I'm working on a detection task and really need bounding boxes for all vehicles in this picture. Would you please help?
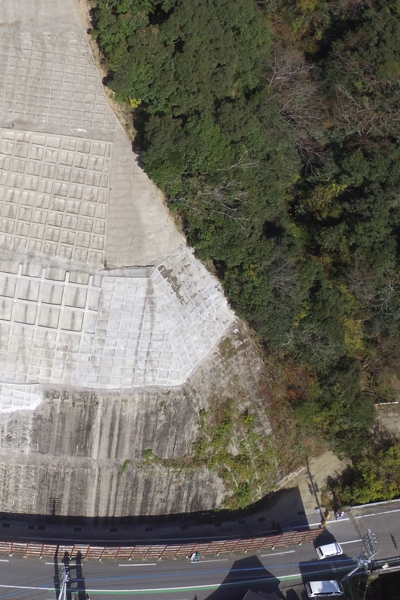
[314,543,341,561]
[304,579,343,599]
